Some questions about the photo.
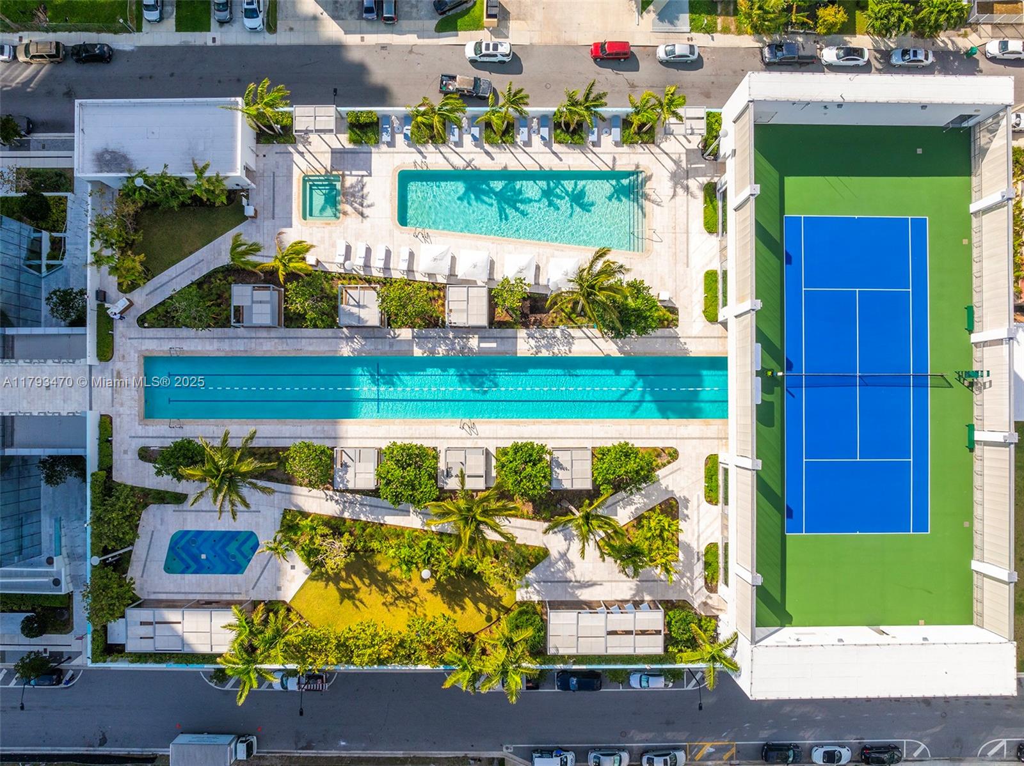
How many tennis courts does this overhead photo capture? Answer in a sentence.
There is 1 tennis court in the image.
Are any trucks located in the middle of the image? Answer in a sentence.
No, looking in the middle of the image, there is no truck.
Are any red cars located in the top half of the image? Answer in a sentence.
Yes, a red car shows up in the top half of the image.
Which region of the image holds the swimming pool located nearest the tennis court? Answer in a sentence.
The swimming pool located nearest the tennis court appears toward the center of the photo.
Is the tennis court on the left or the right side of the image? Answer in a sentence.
It is on the right.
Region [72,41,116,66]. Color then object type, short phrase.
black car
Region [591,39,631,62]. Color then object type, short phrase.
red car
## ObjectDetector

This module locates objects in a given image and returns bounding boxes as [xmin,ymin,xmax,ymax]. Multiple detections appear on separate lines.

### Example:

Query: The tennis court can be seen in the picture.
[756,125,974,624]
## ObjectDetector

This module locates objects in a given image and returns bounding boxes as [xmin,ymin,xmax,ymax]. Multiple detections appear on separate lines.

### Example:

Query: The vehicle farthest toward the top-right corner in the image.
[982,38,1024,61]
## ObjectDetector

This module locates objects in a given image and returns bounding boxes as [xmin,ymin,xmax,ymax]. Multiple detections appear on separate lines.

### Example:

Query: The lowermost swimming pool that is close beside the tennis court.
[139,352,726,424]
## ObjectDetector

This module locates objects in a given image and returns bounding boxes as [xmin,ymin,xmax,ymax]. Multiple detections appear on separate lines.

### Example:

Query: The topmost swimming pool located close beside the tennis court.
[391,164,652,258]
